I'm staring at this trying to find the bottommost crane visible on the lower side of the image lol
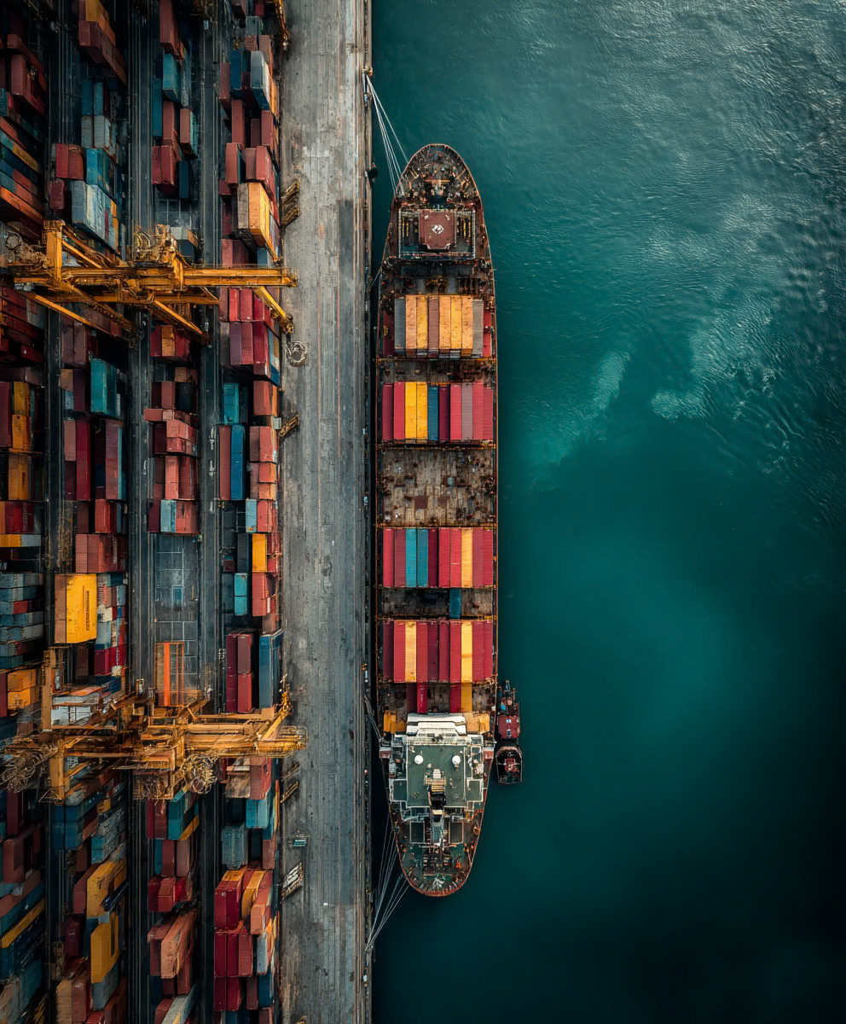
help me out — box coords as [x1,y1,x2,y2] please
[0,648,306,804]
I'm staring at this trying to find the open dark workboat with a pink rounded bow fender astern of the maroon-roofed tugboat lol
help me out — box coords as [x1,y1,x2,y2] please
[497,744,522,784]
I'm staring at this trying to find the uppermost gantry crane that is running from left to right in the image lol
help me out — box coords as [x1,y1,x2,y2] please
[0,215,300,344]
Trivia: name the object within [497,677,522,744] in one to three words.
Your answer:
boat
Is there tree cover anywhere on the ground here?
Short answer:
No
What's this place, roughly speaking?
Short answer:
port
